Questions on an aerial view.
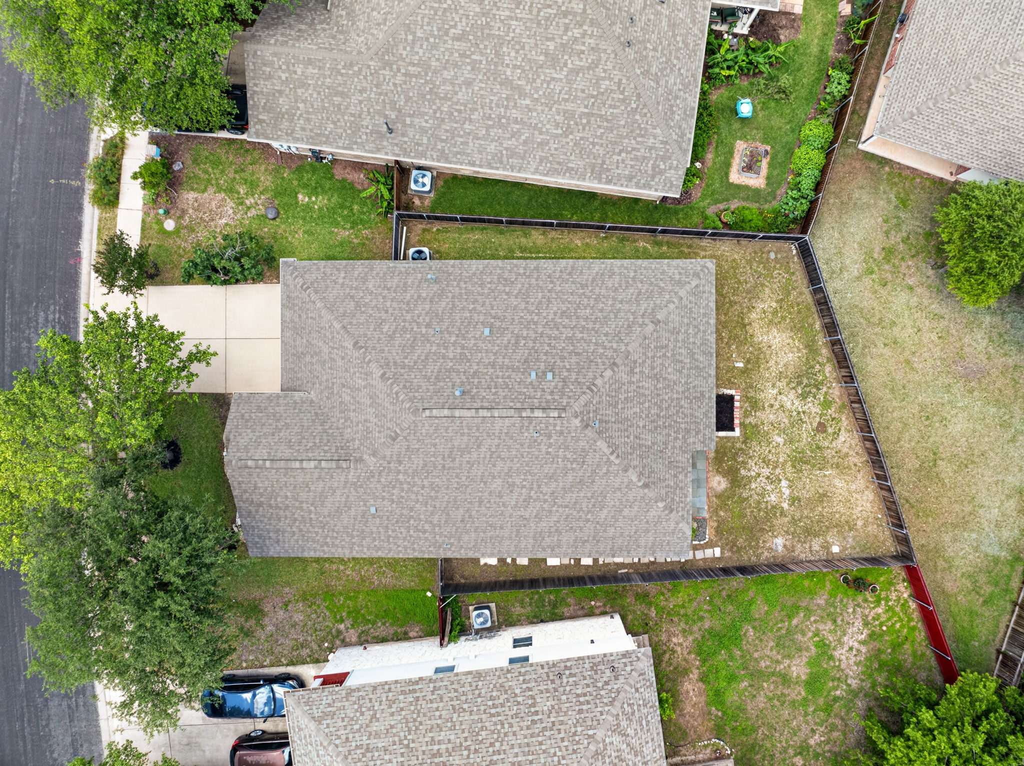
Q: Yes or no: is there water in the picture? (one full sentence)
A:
No, there's no water in this view.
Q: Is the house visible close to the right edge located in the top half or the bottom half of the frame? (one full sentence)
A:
You can find the house visible close to the right edge in the top half.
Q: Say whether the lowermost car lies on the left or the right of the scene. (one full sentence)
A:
The lowermost car is on the left side of the image.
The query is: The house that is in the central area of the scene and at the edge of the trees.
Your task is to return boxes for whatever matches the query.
[221,257,715,557]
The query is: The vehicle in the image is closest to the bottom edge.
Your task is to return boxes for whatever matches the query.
[232,732,290,766]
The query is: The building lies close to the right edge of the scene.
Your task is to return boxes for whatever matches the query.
[858,0,1024,196]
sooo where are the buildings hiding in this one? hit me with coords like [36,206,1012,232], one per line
[858,0,1024,196]
[221,257,715,557]
[281,613,664,766]
[240,0,783,201]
